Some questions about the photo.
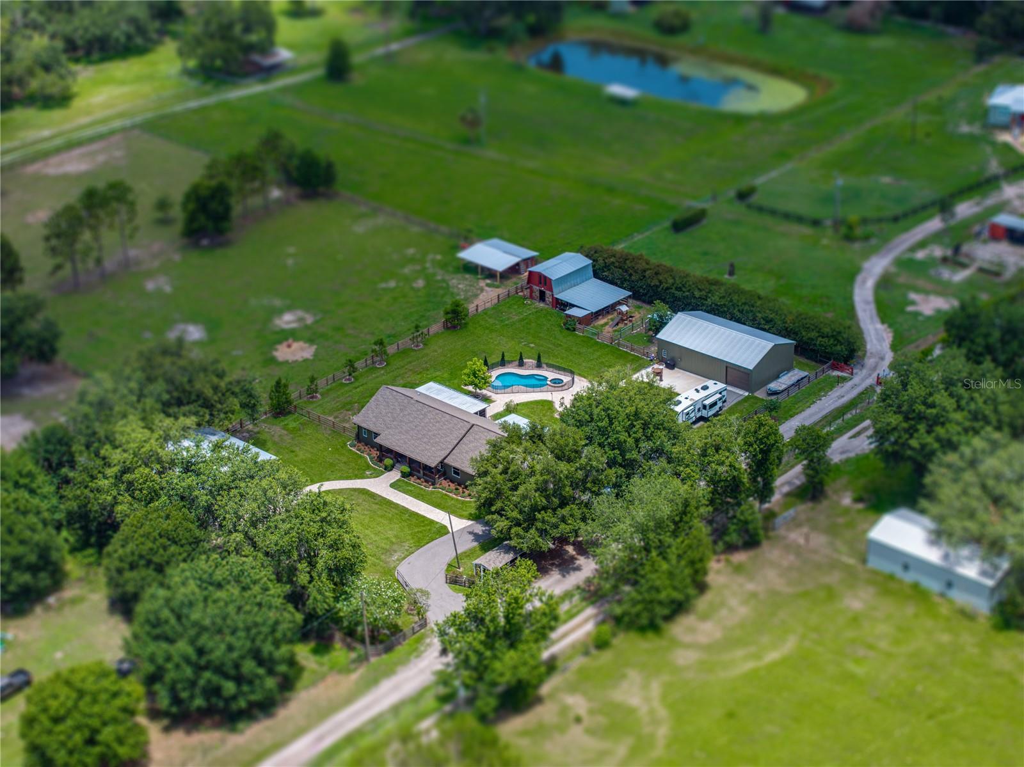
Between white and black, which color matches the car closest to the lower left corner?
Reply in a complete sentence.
The car closest to the lower left corner is black.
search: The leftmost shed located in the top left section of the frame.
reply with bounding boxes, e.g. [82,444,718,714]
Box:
[245,52,300,75]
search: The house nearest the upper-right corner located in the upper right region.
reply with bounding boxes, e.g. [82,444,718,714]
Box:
[987,96,1024,133]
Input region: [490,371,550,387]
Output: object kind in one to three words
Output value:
swimming pool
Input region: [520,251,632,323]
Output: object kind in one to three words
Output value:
barn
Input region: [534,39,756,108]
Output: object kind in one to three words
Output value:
pond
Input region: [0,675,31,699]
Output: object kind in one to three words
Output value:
car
